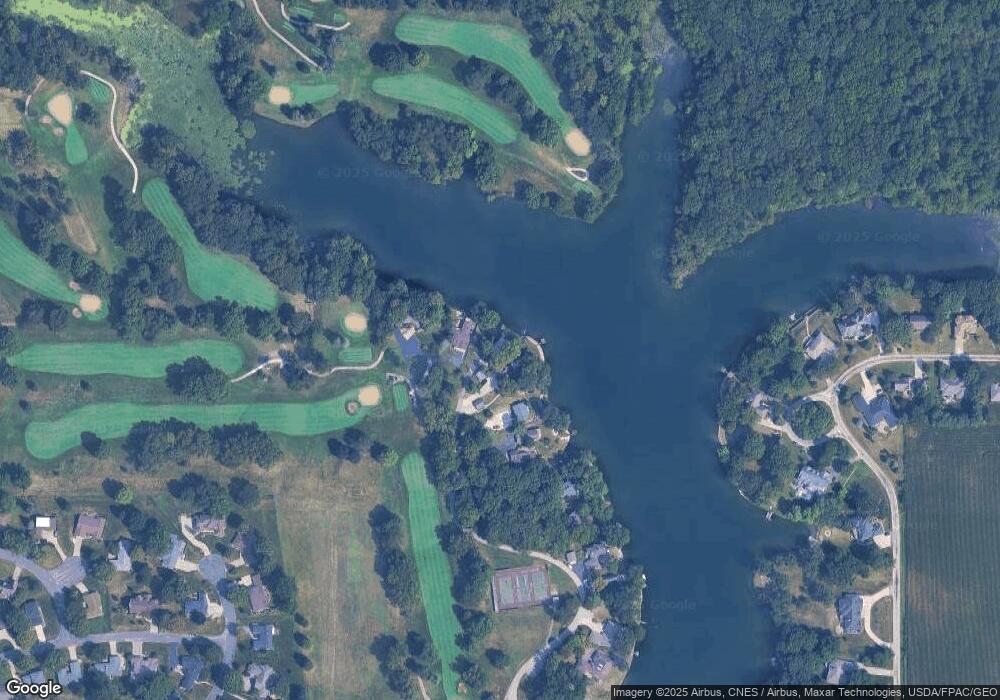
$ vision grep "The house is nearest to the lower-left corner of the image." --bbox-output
[21,670,47,689]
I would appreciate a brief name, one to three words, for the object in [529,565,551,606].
tennis court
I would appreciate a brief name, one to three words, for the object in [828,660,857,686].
house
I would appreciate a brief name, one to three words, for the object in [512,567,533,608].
tennis court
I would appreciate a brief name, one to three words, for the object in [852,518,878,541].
house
